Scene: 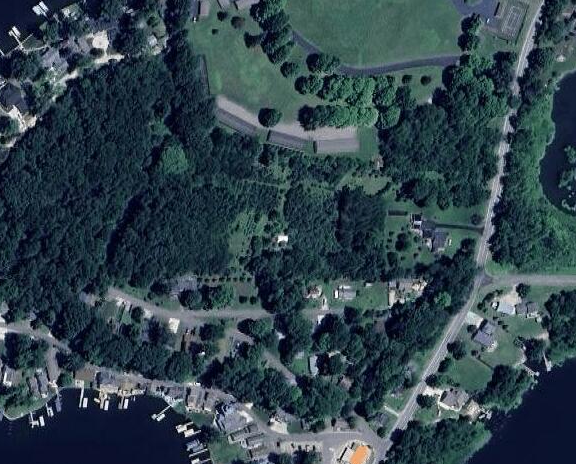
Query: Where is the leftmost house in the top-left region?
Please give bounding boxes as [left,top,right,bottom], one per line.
[2,84,27,113]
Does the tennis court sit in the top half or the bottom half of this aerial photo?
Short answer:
top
